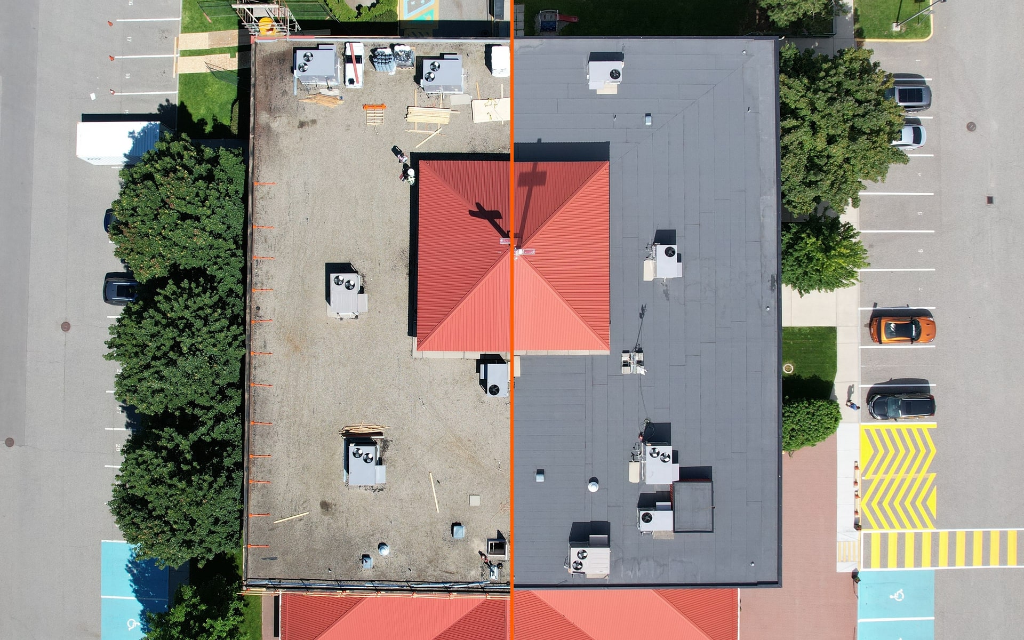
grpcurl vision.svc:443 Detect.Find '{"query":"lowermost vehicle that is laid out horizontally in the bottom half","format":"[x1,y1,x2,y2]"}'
[870,391,936,423]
